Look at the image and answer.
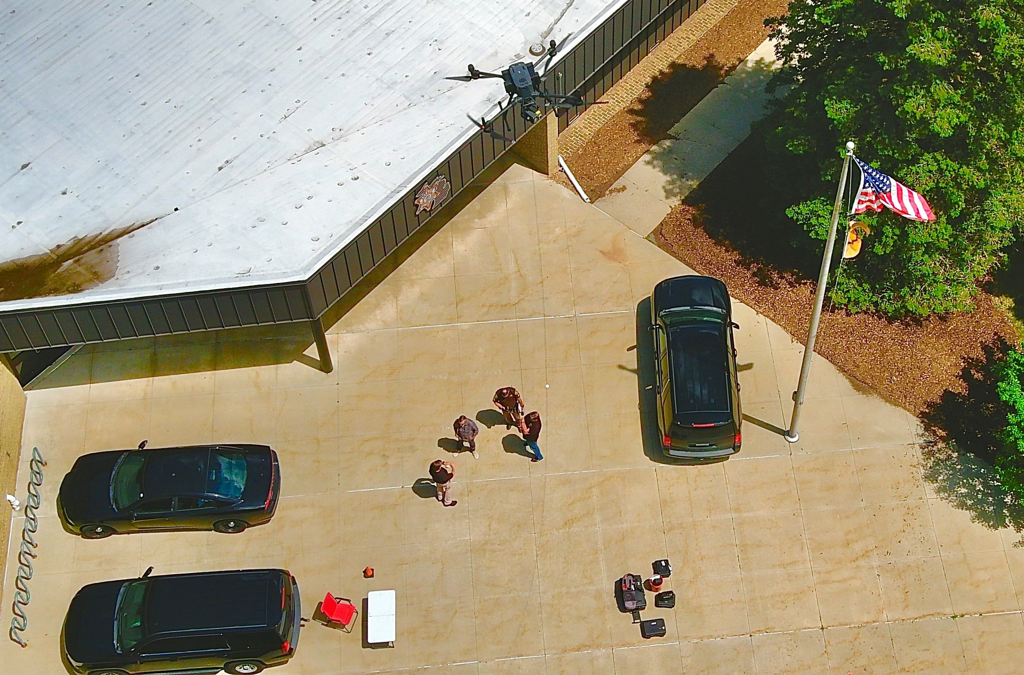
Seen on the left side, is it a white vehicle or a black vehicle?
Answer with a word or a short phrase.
black vehicle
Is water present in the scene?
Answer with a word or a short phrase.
No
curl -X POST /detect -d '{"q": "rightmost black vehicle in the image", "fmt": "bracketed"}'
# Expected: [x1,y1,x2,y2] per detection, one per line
[644,272,749,461]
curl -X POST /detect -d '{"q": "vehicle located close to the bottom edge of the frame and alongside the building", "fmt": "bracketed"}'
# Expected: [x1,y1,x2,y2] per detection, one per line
[62,561,318,675]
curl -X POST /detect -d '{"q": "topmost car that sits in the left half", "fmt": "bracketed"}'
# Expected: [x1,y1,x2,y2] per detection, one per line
[58,435,280,538]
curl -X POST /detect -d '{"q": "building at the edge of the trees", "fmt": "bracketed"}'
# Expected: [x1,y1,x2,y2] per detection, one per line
[0,0,717,615]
